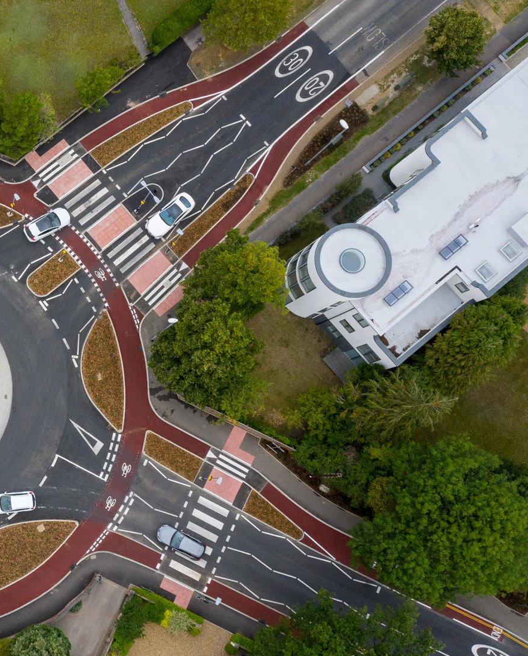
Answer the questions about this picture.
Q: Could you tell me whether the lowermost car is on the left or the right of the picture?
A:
left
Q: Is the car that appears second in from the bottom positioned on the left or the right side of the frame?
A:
left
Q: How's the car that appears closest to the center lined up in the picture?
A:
on a diagonal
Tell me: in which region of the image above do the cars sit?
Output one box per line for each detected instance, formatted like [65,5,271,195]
[0,490,37,515]
[20,207,72,241]
[145,189,199,238]
[154,523,210,564]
